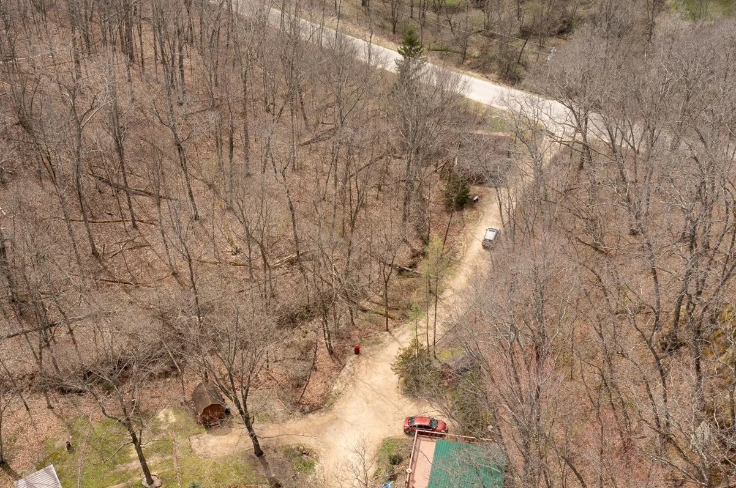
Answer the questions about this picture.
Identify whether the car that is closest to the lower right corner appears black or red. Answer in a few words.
red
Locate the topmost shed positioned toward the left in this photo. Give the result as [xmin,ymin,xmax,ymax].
[199,373,234,429]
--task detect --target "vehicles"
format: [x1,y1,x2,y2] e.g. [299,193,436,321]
[480,228,500,251]
[403,413,449,434]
